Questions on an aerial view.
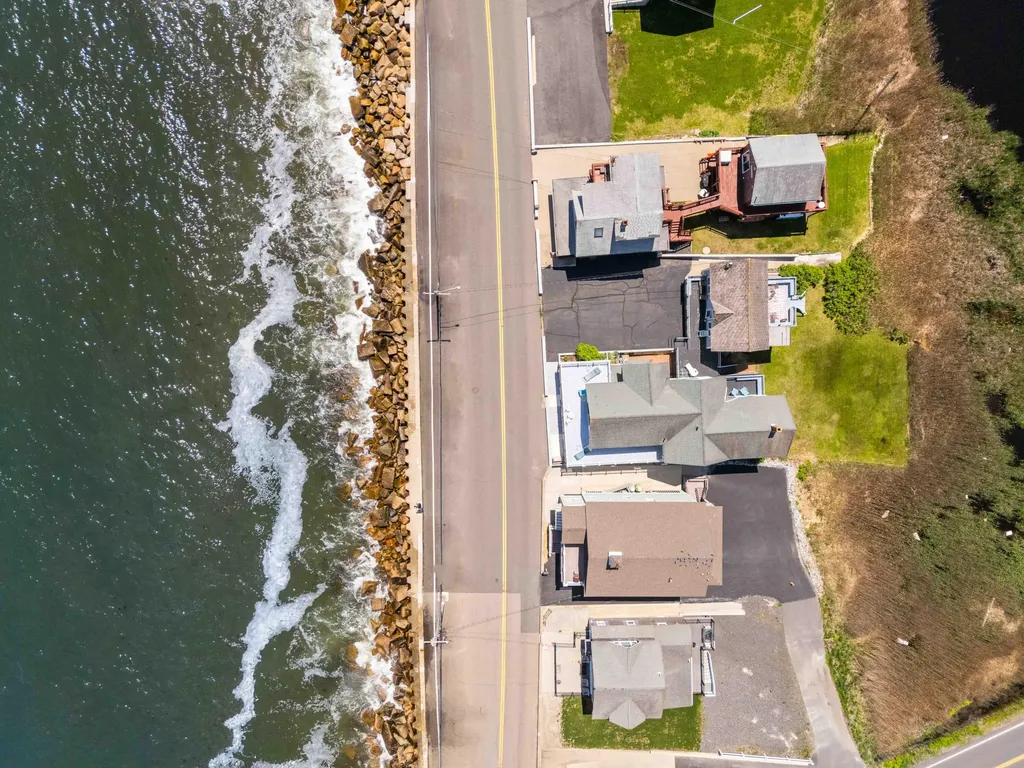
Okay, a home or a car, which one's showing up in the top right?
home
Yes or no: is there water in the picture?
Yes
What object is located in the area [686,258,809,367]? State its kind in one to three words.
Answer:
house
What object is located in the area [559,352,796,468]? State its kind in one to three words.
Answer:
house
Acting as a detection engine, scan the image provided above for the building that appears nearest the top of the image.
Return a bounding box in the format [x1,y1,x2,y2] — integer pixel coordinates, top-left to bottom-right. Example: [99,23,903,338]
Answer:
[605,0,650,39]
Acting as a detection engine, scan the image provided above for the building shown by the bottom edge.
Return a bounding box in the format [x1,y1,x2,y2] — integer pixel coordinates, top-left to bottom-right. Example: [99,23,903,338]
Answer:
[579,612,717,730]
